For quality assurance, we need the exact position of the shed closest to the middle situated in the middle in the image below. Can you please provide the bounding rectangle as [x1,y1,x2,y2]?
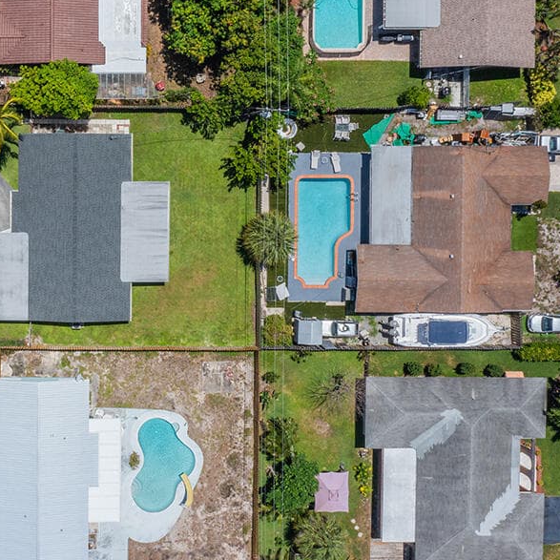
[289,317,322,345]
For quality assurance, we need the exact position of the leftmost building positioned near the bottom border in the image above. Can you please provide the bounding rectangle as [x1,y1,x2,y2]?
[0,364,121,560]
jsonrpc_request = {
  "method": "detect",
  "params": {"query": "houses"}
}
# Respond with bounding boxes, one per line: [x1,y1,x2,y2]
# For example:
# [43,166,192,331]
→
[353,145,551,315]
[0,364,121,560]
[360,378,547,560]
[376,0,536,103]
[0,0,158,102]
[0,132,170,329]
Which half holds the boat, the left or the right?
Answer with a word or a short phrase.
right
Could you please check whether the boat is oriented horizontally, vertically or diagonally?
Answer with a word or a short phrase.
horizontally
